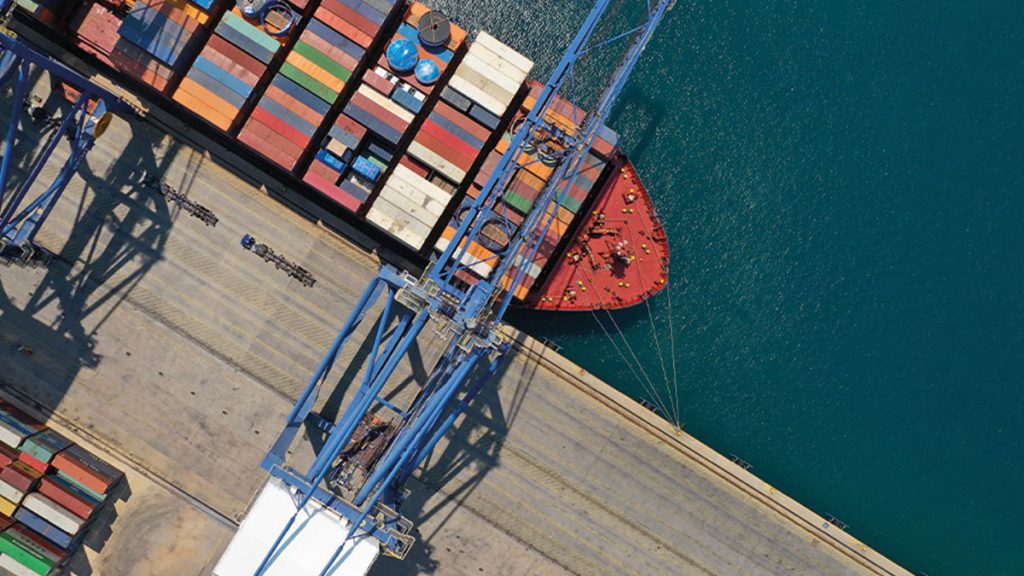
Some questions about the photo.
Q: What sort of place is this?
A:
port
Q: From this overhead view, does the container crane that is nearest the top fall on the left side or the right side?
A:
left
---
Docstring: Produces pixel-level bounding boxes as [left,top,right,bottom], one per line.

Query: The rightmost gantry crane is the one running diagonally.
[196,0,674,576]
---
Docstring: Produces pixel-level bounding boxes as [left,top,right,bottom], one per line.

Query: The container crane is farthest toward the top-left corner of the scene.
[0,0,144,254]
